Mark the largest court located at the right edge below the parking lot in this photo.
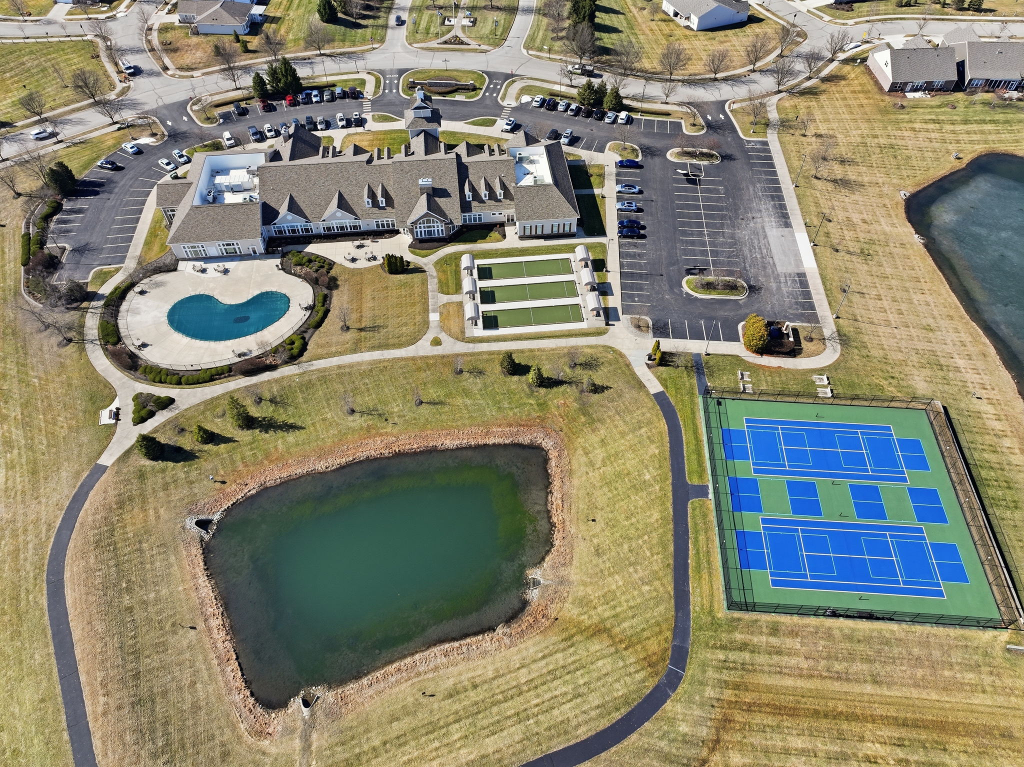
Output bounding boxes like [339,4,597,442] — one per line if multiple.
[699,396,1005,628]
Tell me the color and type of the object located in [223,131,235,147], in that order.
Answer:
white vehicle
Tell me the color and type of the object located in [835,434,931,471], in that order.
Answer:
blue sports court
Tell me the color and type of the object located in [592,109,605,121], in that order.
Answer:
black vehicle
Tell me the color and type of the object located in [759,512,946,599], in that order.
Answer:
blue tennis court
